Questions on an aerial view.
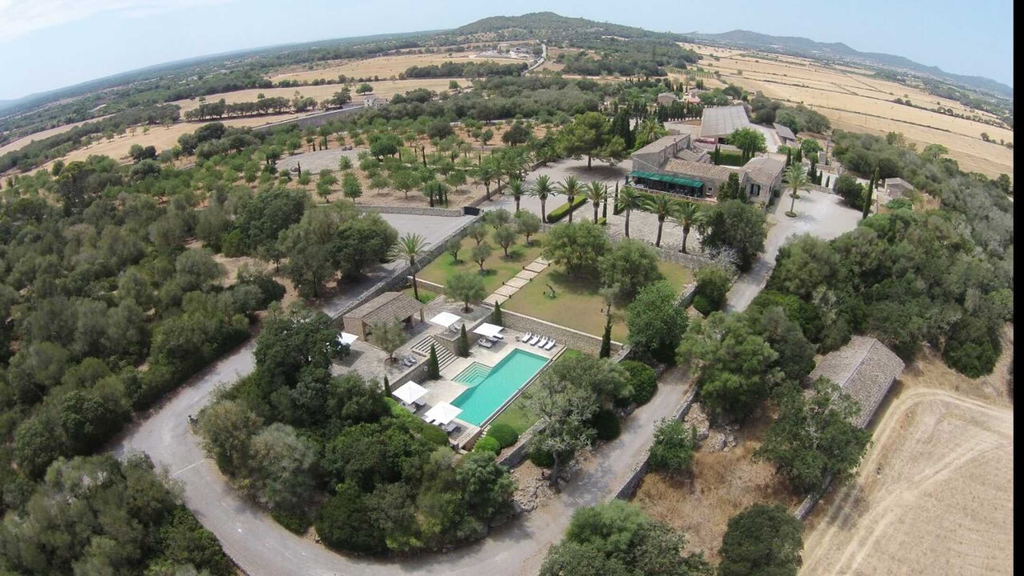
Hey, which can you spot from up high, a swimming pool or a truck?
swimming pool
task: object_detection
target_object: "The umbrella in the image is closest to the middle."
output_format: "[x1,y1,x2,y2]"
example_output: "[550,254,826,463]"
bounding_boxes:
[468,321,500,347]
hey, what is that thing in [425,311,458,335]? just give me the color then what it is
white umbrella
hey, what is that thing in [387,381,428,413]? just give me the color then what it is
white umbrella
